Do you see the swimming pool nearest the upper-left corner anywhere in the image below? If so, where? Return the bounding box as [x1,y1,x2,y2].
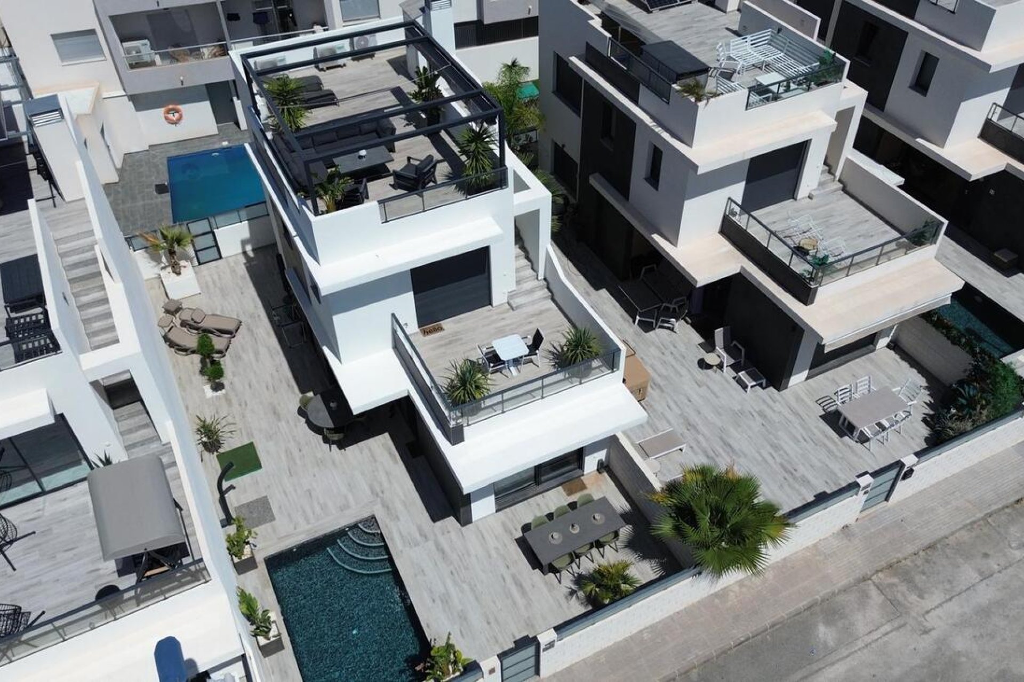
[168,145,260,223]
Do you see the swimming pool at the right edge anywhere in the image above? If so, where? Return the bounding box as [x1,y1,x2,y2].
[935,300,1009,361]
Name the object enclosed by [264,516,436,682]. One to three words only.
swimming pool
